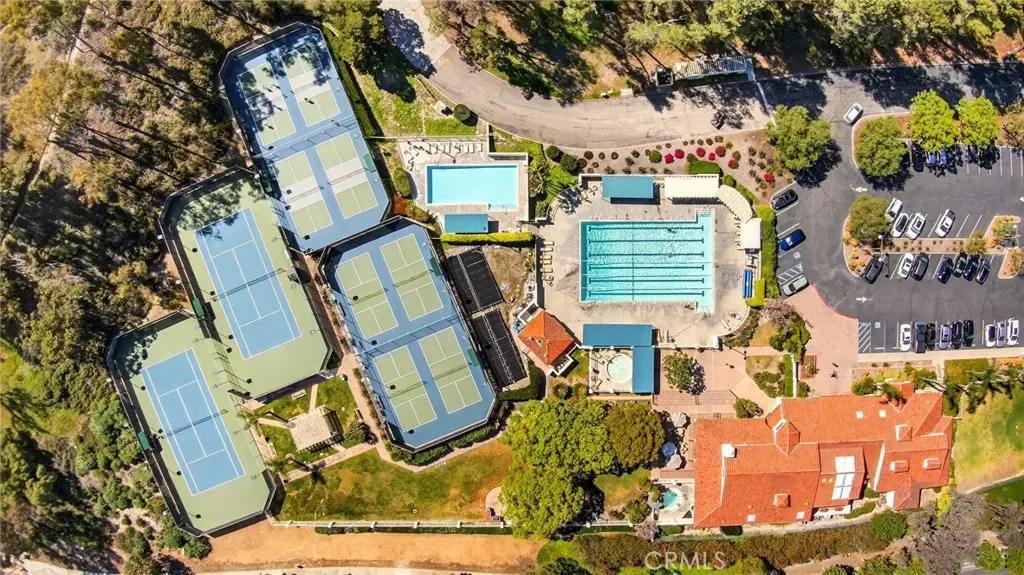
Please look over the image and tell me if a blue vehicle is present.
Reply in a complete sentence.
Yes, looking at the shot, I can spot a blue vehicle.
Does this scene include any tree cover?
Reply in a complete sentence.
Yes, the picture does contain tree cover.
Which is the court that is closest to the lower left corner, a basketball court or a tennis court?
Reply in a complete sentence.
The court that is closest to the lower left corner in the image is a tennis court.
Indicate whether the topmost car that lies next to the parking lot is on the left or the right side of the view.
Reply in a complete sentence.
It is on the right.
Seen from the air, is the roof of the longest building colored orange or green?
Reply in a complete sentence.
The roof of the longest building is orange.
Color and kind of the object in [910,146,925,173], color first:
black car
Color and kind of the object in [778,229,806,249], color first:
blue car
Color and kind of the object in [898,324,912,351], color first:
white car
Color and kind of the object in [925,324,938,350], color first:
black vehicle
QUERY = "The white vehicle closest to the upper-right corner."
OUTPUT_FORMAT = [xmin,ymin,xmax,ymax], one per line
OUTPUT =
[840,101,861,127]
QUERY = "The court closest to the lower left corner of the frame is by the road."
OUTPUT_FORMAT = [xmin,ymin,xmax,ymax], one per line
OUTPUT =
[115,317,273,532]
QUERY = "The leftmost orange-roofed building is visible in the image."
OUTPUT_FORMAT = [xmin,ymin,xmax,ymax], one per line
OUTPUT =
[517,309,574,365]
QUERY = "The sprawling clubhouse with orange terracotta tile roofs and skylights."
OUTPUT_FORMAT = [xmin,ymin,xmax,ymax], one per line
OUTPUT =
[693,384,953,528]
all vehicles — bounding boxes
[909,252,930,281]
[781,276,809,296]
[950,322,965,349]
[884,196,905,223]
[911,320,927,353]
[771,189,798,209]
[925,324,938,350]
[890,211,910,238]
[778,229,806,249]
[711,113,723,127]
[895,252,915,279]
[961,252,981,280]
[840,101,861,127]
[898,324,912,351]
[951,251,970,276]
[995,321,1008,348]
[905,212,926,240]
[962,319,976,347]
[910,146,925,173]
[935,256,953,283]
[973,258,992,285]
[937,324,952,350]
[934,209,956,237]
[862,255,885,284]
[983,324,997,347]
[1006,318,1022,345]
